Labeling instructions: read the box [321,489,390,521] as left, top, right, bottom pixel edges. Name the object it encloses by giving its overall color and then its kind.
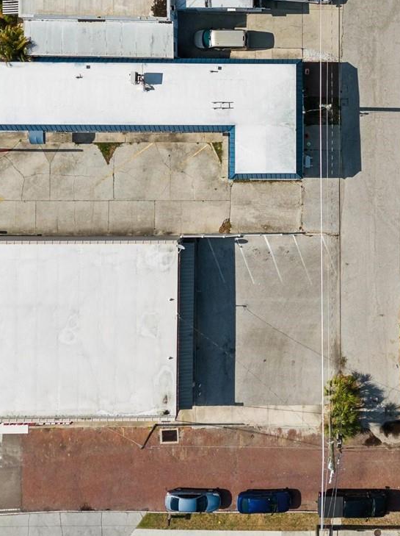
black truck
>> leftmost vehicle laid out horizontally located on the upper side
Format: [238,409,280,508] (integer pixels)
[194,25,249,51]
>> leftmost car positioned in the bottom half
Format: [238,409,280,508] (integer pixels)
[164,489,220,518]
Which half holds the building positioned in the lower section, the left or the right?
left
